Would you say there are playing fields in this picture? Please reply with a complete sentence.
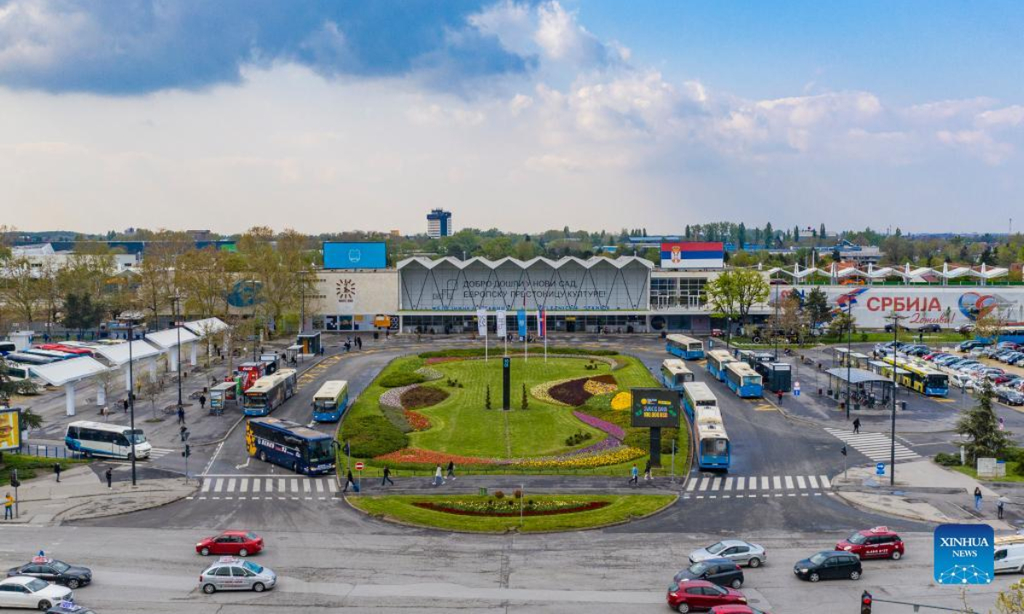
No, there is no playing field in the image.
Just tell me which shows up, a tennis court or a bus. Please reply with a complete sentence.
Of the two, only a bus appears.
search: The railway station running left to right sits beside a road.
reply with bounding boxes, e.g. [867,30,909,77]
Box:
[165,254,777,334]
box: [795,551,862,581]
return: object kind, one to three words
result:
car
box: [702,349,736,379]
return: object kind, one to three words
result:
bus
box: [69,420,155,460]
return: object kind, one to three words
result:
vehicle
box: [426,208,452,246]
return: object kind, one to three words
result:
building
